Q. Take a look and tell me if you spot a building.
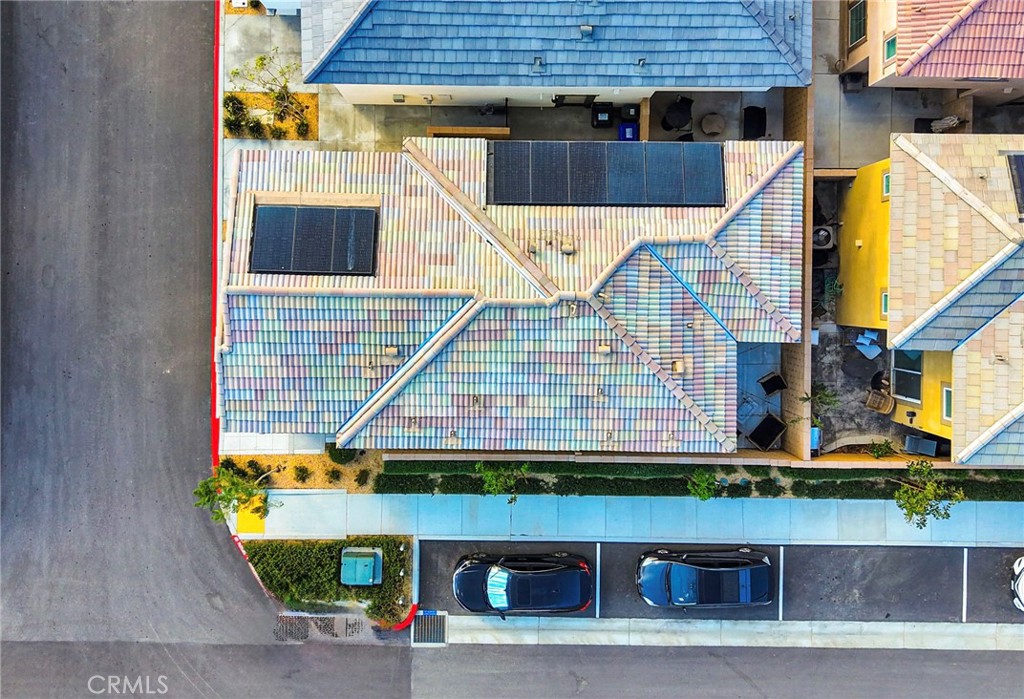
Yes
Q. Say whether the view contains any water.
No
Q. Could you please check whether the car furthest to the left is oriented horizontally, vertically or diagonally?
horizontally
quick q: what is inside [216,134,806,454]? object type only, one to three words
house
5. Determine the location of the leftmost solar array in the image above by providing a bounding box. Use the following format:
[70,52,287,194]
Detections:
[248,189,384,275]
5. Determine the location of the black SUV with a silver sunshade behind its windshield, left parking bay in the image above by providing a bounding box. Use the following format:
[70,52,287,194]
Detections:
[454,549,593,620]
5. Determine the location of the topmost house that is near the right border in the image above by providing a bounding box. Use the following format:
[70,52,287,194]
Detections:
[844,0,1024,104]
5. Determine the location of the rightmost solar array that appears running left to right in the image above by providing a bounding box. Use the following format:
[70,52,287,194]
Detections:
[483,138,728,209]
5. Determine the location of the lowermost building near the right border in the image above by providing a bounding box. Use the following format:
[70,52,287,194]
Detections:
[831,132,1024,465]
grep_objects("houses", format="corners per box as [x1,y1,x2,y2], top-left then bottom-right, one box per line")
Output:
[303,0,813,106]
[844,0,1024,104]
[216,134,806,454]
[831,132,1024,465]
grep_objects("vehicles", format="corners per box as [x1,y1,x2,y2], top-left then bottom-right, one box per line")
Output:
[635,548,774,618]
[454,549,593,620]
[1006,552,1024,610]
